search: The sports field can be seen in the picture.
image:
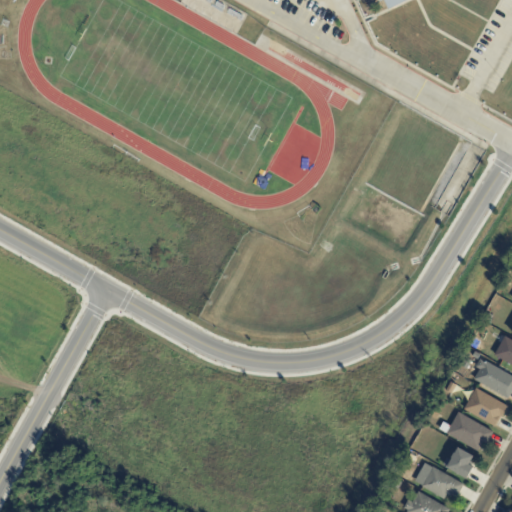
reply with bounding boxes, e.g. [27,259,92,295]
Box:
[61,0,293,182]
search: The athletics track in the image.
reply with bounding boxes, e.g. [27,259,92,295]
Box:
[18,0,348,210]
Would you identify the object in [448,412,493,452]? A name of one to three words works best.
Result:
house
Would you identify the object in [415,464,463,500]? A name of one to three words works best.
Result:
house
